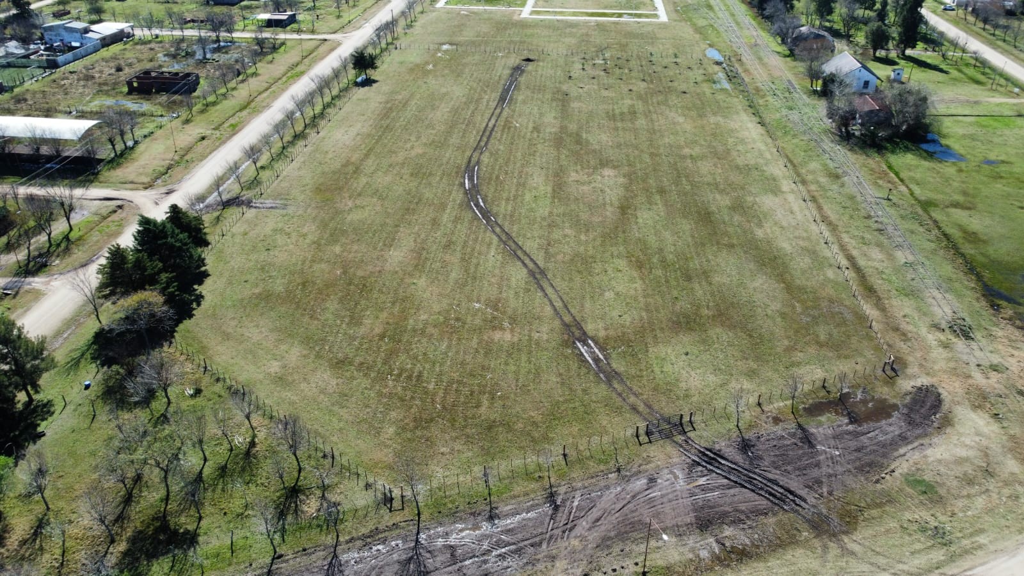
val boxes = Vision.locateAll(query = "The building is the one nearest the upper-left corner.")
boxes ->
[32,17,102,45]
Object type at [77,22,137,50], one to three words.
building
